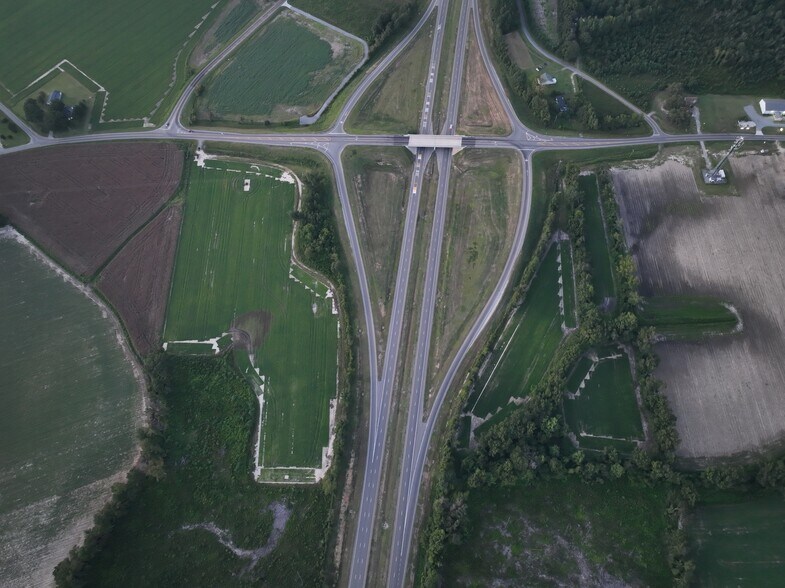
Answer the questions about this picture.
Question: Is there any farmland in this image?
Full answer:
Yes, the picture does contain farmland.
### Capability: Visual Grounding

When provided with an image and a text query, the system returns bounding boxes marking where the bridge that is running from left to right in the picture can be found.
[405,133,467,155]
